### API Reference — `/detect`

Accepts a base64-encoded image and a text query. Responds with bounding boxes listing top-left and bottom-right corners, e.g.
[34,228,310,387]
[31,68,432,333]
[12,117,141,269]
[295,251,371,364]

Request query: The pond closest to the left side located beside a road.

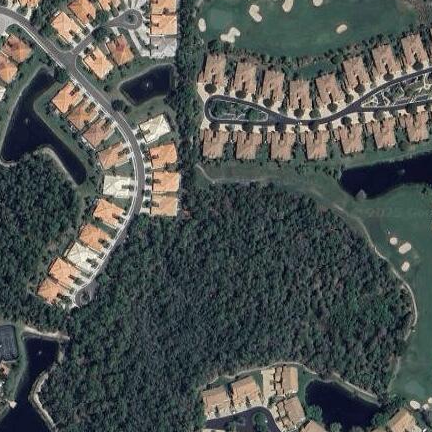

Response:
[0,67,86,184]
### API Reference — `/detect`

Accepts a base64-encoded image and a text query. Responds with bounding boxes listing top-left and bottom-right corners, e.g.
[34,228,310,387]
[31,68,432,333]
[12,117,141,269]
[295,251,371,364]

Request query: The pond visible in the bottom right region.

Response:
[306,380,379,432]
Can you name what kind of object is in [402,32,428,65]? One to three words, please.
house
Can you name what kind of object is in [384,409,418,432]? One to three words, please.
house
